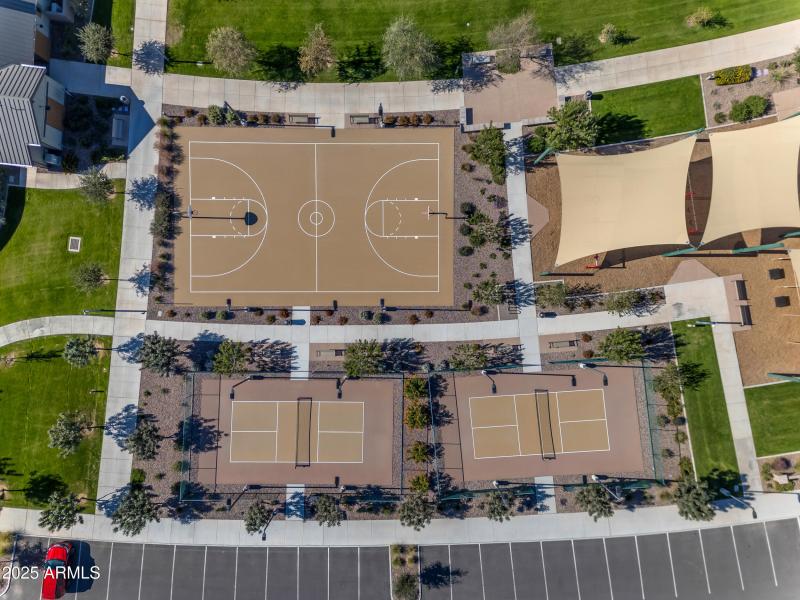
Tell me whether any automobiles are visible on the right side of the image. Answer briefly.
No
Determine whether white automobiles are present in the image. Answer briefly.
No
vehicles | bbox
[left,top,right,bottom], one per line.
[45,545,75,599]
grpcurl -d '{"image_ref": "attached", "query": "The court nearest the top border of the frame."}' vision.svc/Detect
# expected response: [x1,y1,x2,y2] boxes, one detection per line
[173,126,454,306]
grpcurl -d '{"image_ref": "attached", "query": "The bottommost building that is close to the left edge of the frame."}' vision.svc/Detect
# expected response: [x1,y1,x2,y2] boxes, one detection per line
[0,65,63,166]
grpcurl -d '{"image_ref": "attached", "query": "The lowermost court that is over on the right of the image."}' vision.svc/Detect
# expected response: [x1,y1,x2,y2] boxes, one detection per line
[438,366,644,482]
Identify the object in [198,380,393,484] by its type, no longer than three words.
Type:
sports court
